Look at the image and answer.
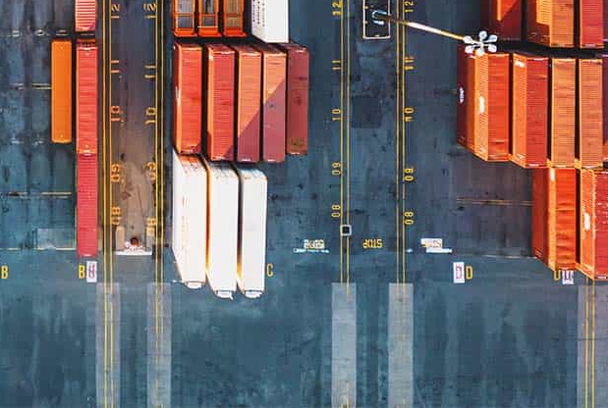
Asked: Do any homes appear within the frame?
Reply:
No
